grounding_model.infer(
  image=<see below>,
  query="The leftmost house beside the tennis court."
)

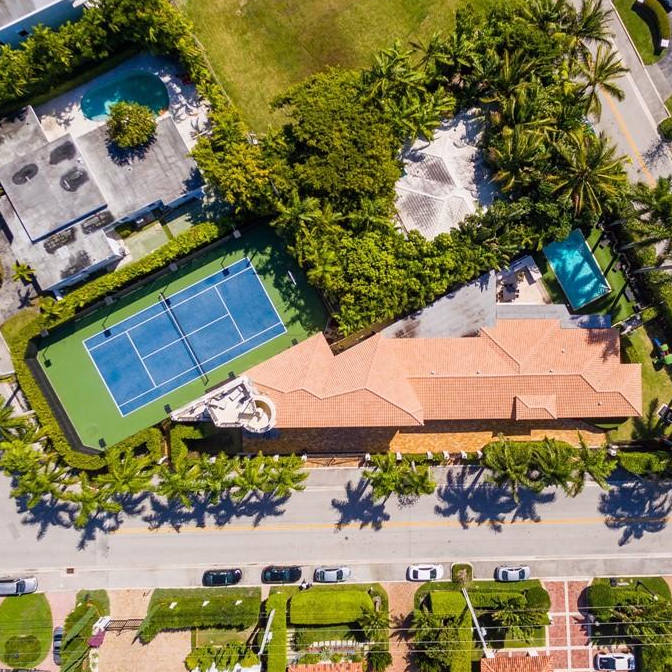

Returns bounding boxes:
[0,107,205,290]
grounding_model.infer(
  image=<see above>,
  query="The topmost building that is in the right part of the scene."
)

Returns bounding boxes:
[395,117,481,243]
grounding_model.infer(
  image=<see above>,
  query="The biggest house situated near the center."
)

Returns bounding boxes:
[170,271,643,428]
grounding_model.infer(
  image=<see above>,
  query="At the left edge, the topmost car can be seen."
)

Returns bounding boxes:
[0,575,39,596]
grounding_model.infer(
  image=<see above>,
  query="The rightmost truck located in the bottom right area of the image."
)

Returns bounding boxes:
[595,651,636,672]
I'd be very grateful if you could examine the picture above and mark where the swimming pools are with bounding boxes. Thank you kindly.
[543,227,614,313]
[79,68,172,125]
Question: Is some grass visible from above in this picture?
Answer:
Yes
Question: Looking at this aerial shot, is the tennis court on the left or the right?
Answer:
left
